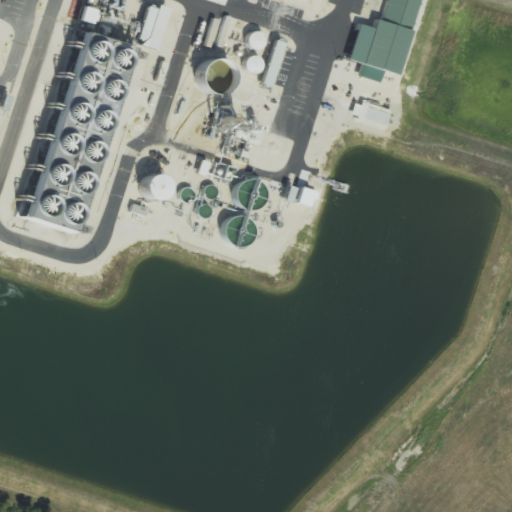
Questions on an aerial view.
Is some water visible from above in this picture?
Yes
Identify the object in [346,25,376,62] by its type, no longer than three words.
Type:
building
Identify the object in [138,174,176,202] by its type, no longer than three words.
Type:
storage tank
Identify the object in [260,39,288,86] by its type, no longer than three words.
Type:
shed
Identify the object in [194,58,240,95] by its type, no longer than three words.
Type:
storage tank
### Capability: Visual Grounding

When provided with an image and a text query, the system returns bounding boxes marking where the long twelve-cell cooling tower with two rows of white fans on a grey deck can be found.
[17,31,138,230]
